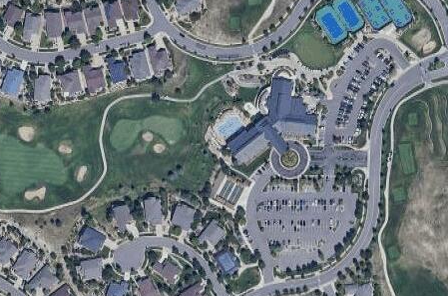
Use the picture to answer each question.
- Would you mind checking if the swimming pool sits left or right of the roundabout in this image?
on the left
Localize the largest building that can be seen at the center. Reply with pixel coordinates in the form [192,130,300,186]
[224,76,318,165]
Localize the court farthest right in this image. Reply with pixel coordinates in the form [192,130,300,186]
[380,0,412,27]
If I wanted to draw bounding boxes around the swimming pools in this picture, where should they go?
[204,103,258,182]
